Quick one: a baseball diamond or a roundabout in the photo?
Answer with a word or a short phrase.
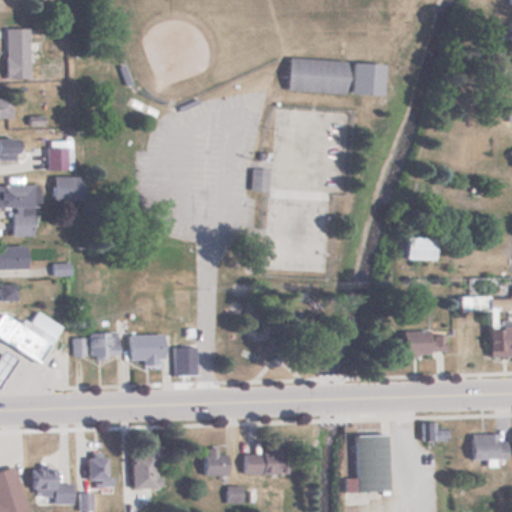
baseball diamond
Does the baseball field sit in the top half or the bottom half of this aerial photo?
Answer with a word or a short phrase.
top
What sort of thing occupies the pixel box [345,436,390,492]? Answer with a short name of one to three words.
building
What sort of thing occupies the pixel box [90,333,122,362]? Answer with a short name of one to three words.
house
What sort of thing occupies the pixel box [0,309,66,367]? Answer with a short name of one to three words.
building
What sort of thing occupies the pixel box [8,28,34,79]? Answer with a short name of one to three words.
house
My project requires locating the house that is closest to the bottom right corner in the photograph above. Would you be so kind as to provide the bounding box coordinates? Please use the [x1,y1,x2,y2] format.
[472,432,511,469]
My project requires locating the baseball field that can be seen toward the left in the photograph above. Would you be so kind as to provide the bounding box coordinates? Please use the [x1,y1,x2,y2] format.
[143,20,210,95]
